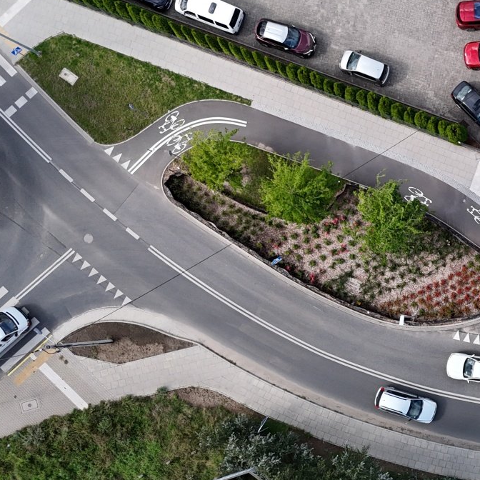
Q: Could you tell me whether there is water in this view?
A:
No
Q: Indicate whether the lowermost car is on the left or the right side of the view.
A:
right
